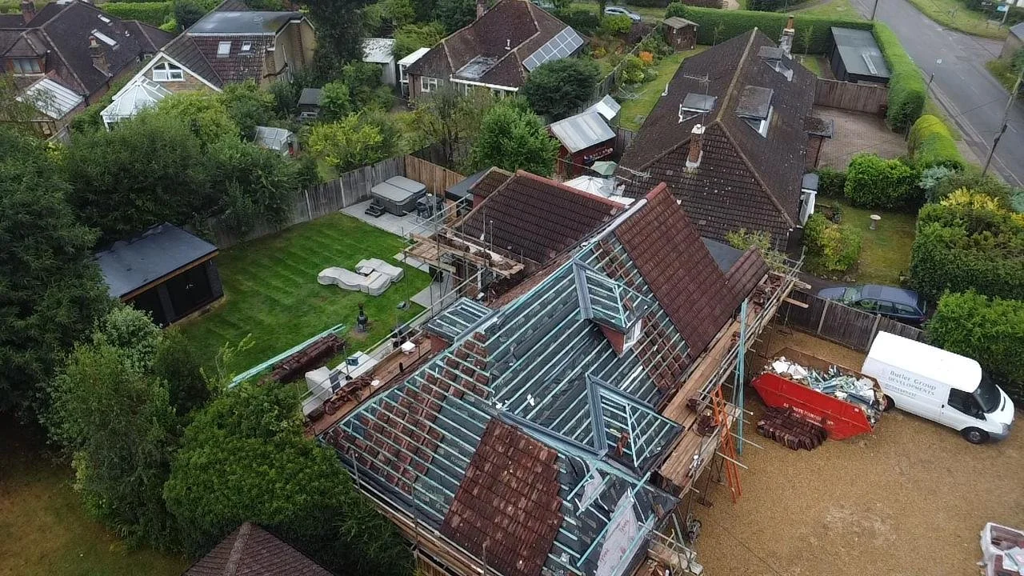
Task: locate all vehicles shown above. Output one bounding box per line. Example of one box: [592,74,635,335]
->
[605,6,645,21]
[863,333,1019,448]
[817,283,936,334]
